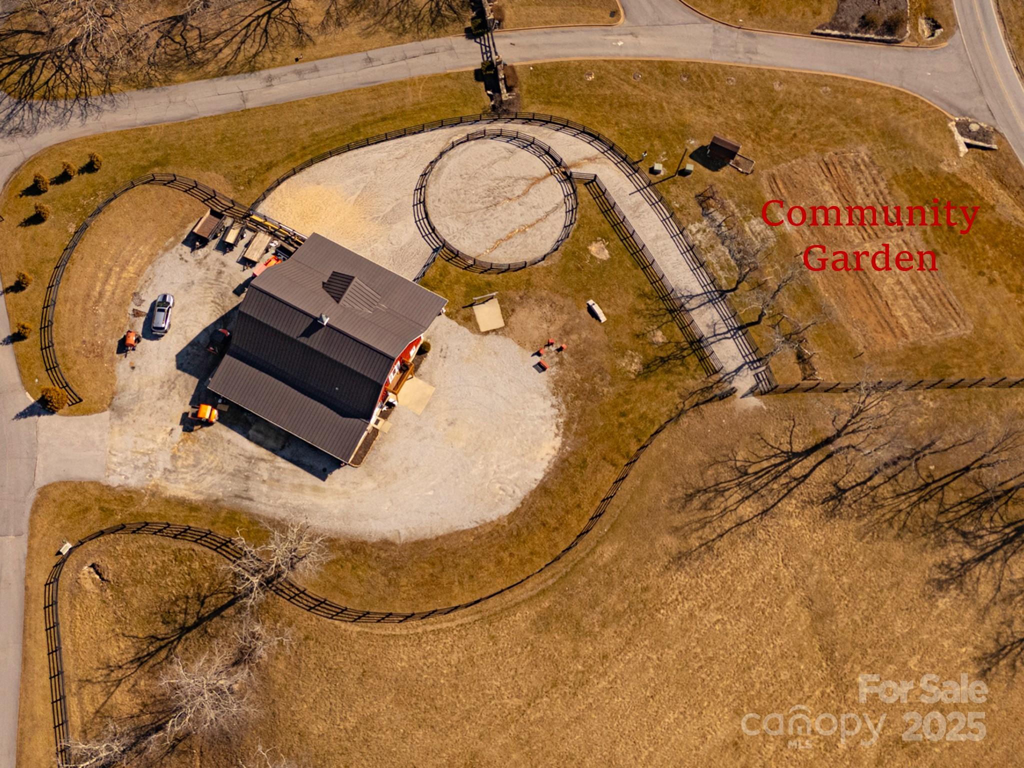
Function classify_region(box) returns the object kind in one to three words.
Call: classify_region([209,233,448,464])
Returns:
barn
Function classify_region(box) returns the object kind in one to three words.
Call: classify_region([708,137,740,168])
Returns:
shed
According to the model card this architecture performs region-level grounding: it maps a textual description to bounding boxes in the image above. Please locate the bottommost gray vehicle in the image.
[148,295,175,335]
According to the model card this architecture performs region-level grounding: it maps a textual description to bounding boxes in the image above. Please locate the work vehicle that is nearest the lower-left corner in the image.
[183,405,222,427]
